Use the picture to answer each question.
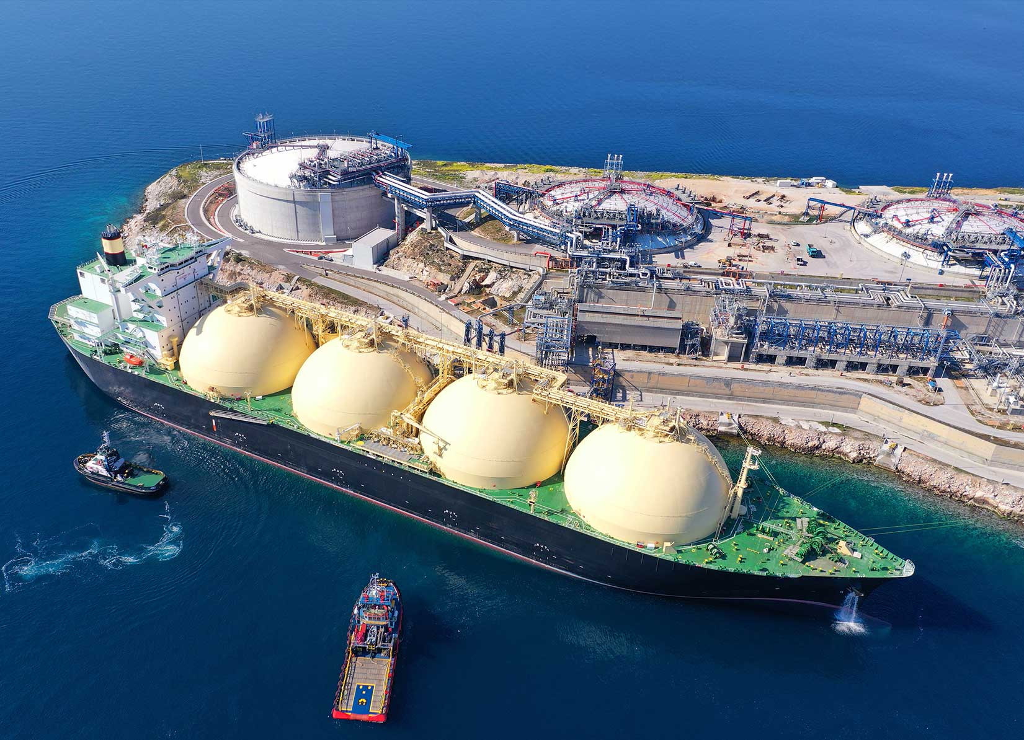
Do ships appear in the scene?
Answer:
Yes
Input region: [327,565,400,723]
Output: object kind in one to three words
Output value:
boat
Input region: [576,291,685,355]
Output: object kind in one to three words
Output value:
building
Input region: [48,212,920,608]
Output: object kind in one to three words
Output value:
ship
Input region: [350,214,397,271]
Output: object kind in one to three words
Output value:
shed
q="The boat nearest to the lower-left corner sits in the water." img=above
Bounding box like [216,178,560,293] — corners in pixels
[69,420,173,491]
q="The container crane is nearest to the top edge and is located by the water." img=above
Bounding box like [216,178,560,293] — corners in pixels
[371,126,412,175]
